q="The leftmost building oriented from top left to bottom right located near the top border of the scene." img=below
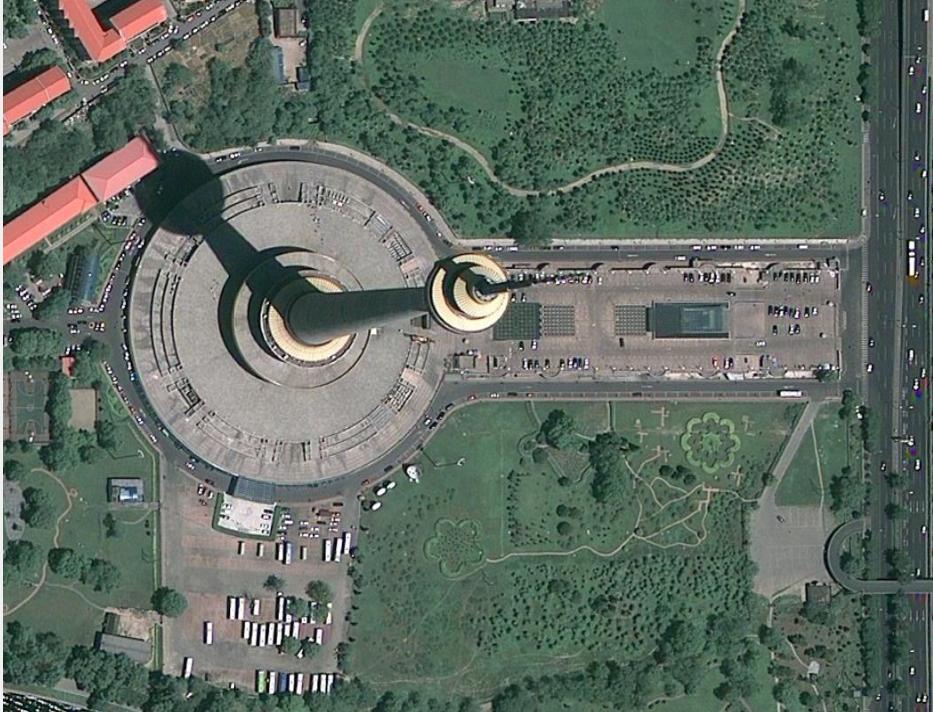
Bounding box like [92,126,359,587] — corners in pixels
[56,0,126,62]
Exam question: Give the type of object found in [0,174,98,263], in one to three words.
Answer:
building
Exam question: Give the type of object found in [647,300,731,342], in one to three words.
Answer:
building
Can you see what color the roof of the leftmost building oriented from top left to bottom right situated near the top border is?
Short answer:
red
